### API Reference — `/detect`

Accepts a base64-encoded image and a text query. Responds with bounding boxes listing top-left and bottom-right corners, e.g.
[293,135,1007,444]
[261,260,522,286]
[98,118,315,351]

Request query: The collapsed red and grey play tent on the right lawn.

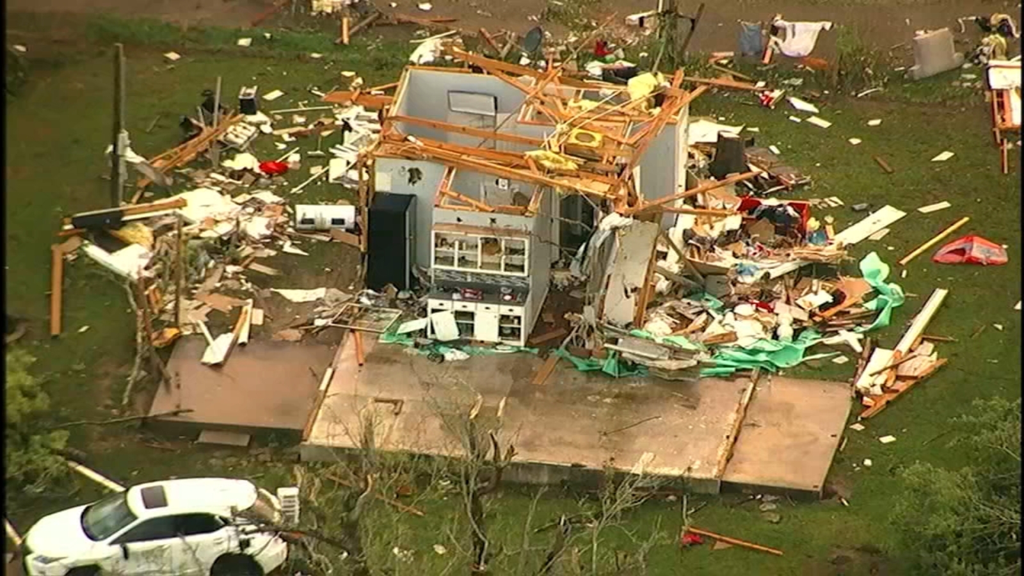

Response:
[933,233,1009,265]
